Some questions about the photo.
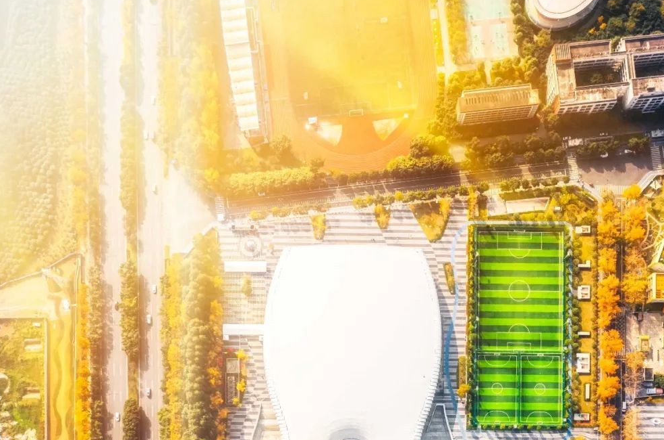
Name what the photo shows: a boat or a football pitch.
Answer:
football pitch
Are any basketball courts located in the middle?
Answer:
No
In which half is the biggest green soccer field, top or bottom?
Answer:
bottom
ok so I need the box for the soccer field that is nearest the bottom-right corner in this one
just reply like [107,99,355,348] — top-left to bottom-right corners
[521,354,566,426]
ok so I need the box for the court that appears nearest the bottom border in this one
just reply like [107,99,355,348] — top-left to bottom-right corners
[466,19,518,63]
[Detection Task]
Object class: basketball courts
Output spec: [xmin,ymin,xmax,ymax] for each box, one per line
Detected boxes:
[466,19,518,63]
[464,0,512,24]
